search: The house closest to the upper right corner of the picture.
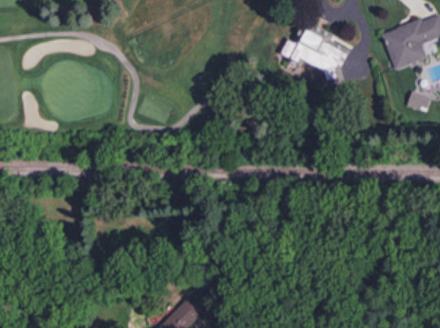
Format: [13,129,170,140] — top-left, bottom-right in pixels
[384,14,440,68]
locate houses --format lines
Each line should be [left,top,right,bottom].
[162,298,202,328]
[282,30,350,78]
[384,14,440,68]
